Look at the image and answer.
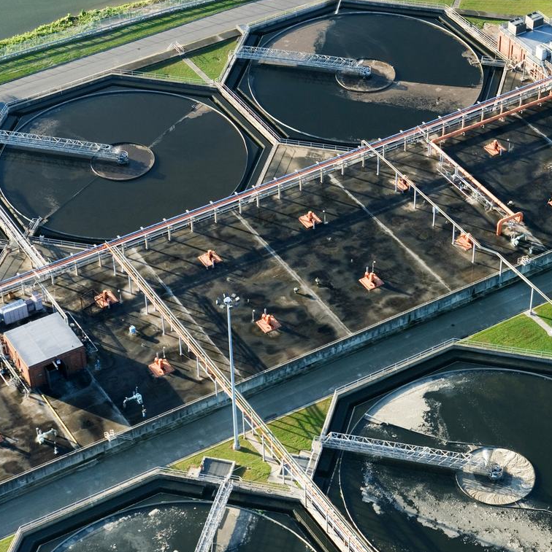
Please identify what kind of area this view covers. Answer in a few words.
industrial area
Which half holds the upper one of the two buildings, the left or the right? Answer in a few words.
right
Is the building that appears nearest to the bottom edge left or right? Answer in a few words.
left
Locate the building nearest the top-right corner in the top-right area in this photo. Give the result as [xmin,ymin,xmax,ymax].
[496,7,552,87]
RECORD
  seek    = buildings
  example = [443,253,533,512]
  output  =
[1,310,84,388]
[496,7,552,87]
